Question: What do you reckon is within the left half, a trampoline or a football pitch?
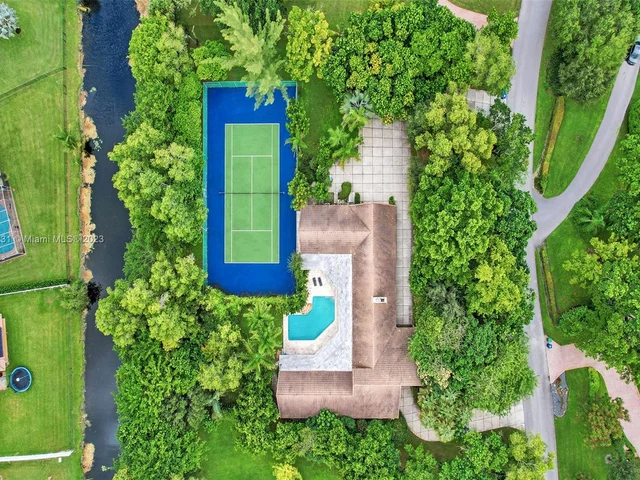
trampoline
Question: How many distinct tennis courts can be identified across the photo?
1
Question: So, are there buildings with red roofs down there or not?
No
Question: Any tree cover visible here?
Yes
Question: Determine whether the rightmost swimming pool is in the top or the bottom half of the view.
bottom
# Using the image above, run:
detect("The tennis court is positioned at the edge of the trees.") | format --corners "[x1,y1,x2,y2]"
[208,88,296,296]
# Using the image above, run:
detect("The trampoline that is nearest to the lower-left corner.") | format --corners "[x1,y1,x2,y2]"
[5,366,33,395]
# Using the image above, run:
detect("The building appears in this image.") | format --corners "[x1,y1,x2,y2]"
[276,202,421,419]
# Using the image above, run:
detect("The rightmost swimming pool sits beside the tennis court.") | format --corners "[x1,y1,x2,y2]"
[286,295,336,342]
